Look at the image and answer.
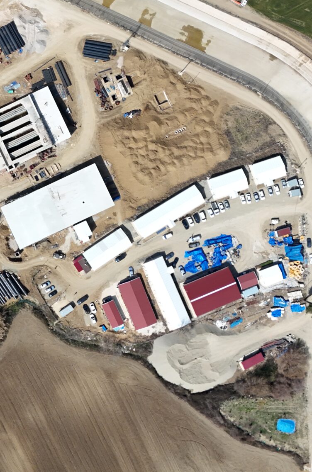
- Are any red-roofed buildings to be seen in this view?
Yes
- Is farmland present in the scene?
Yes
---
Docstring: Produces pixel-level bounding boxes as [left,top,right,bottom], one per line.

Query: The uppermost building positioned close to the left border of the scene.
[0,86,72,172]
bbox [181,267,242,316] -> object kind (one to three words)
building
